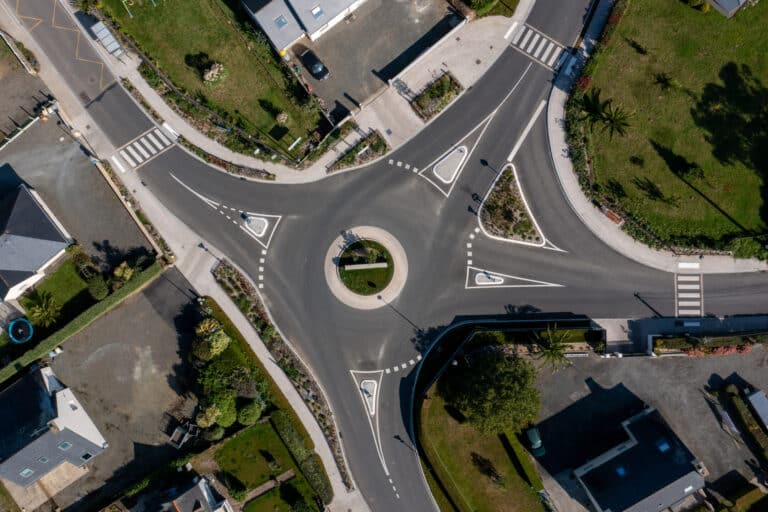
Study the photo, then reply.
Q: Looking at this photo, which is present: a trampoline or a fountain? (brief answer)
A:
trampoline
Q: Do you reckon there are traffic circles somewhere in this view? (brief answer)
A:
Yes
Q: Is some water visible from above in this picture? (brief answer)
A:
No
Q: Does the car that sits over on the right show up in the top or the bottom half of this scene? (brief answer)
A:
bottom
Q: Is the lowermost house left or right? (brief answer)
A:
left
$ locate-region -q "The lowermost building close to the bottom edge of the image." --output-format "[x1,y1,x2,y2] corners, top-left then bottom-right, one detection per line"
[175,477,244,512]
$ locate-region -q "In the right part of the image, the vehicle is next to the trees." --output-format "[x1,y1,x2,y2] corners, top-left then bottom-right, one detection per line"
[524,424,547,457]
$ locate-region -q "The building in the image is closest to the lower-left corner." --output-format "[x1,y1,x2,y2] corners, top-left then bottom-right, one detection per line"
[0,363,106,512]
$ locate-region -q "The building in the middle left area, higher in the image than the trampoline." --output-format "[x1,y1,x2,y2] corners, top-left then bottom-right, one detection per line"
[0,184,76,317]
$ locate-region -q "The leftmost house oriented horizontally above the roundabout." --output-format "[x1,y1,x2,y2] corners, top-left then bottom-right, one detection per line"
[242,0,375,53]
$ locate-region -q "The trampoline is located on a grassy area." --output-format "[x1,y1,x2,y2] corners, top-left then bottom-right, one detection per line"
[8,319,37,343]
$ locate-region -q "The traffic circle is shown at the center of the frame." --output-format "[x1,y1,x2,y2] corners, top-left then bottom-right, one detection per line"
[325,226,408,309]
